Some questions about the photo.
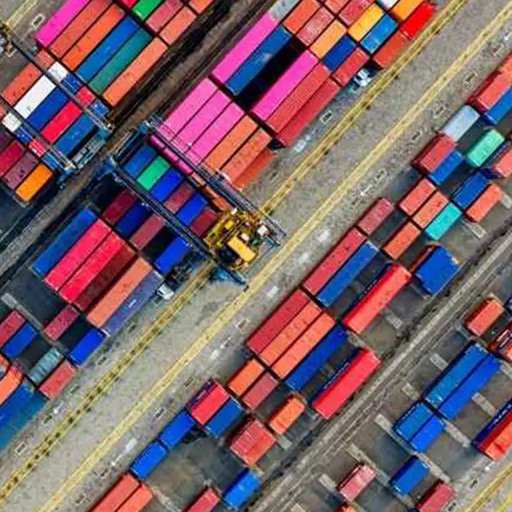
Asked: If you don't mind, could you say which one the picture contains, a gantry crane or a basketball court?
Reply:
gantry crane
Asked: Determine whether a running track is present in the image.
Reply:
No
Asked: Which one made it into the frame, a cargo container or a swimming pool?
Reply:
cargo container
